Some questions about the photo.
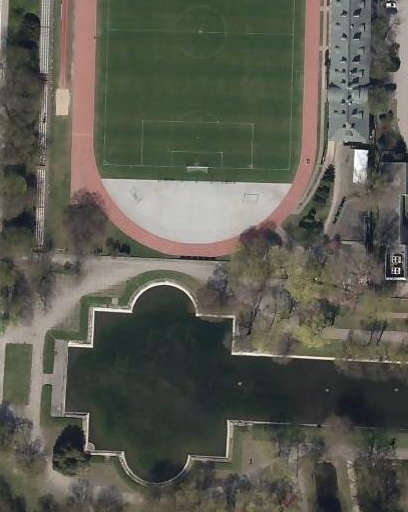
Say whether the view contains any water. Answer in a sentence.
Yes, some water is visible.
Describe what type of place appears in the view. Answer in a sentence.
What you see here is a sports ground.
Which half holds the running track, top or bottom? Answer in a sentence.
Seen from above, the running track lies in the top half of the view.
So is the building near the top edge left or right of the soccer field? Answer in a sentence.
From the viewer's perspective, the building near the top edge falls to the right of the soccer field.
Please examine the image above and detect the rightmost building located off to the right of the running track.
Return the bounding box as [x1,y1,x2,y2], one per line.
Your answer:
[376,162,408,279]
